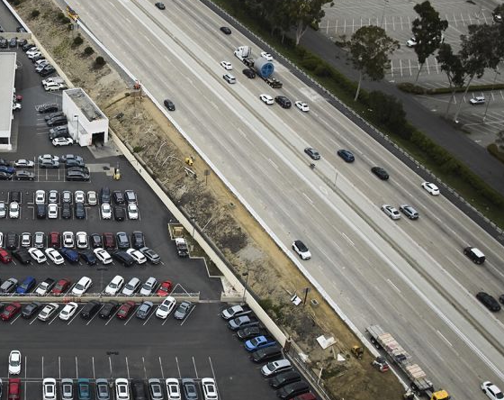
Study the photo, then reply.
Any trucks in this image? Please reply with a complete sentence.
Yes, the frame does contain a truck.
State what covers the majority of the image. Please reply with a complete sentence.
Most of the picture is covered by paved ground.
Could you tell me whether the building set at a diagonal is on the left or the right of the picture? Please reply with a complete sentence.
The building set at a diagonal appears in the left half of the scene.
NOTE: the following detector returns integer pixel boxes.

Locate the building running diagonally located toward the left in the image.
[63,88,109,145]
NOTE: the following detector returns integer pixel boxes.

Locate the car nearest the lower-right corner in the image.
[478,382,504,400]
